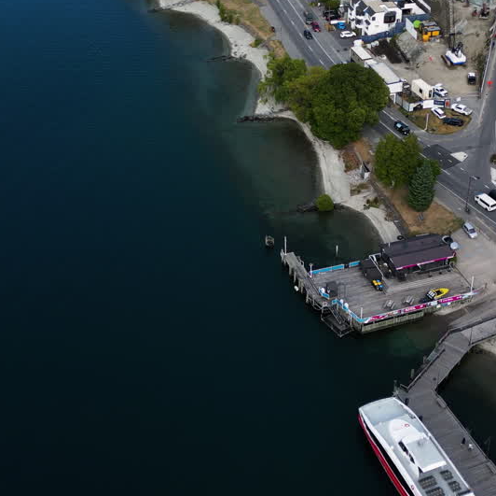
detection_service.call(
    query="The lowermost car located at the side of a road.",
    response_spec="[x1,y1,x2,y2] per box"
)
[460,217,482,237]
